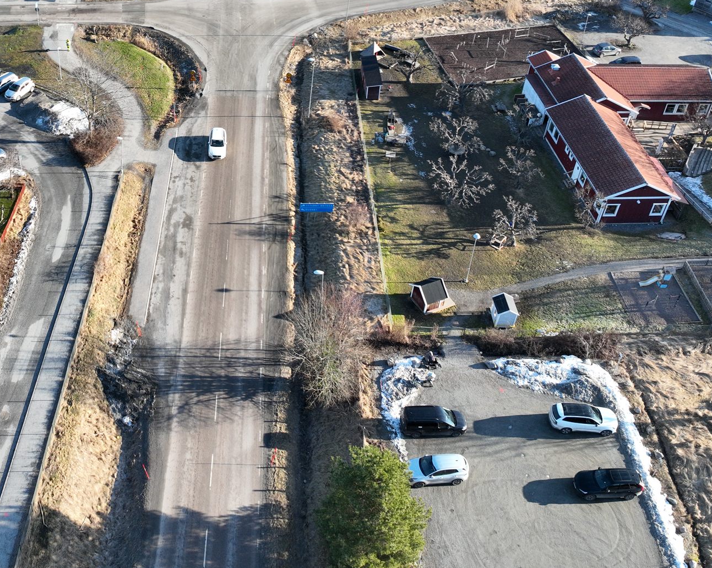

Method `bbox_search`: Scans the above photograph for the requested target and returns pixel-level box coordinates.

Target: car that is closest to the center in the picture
[399,405,471,439]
